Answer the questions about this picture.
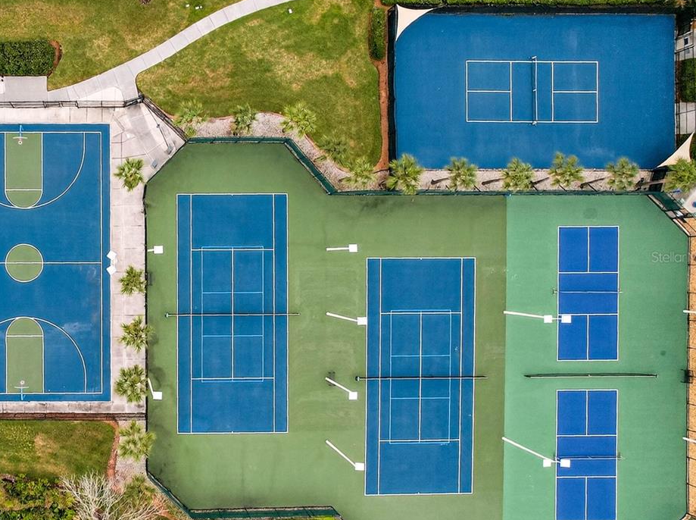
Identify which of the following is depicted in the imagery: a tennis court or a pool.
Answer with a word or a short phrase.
tennis court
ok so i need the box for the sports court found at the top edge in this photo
[395,13,676,168]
